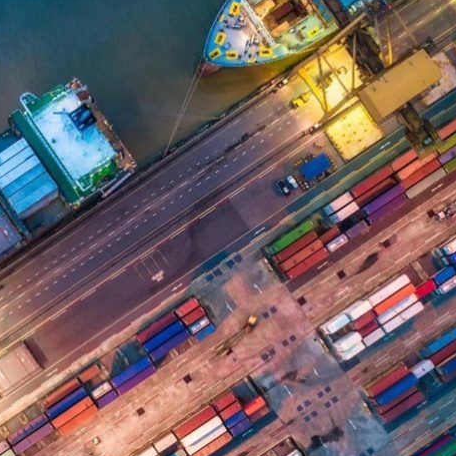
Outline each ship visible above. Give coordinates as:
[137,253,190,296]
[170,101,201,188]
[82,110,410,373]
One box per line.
[0,78,134,261]
[199,0,381,73]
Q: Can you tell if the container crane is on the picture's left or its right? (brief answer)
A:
right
